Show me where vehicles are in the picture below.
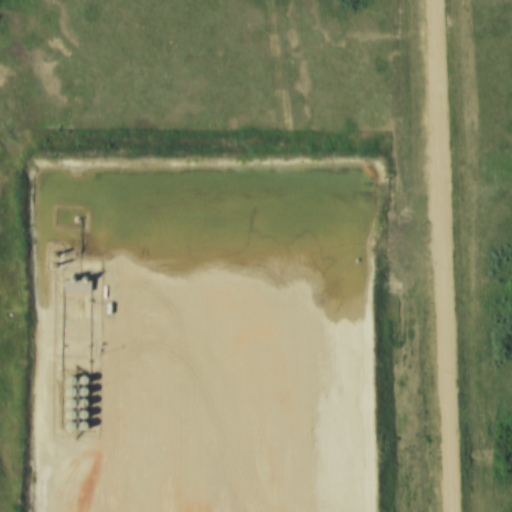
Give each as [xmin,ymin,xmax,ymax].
[102,286,108,300]
[106,302,112,316]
